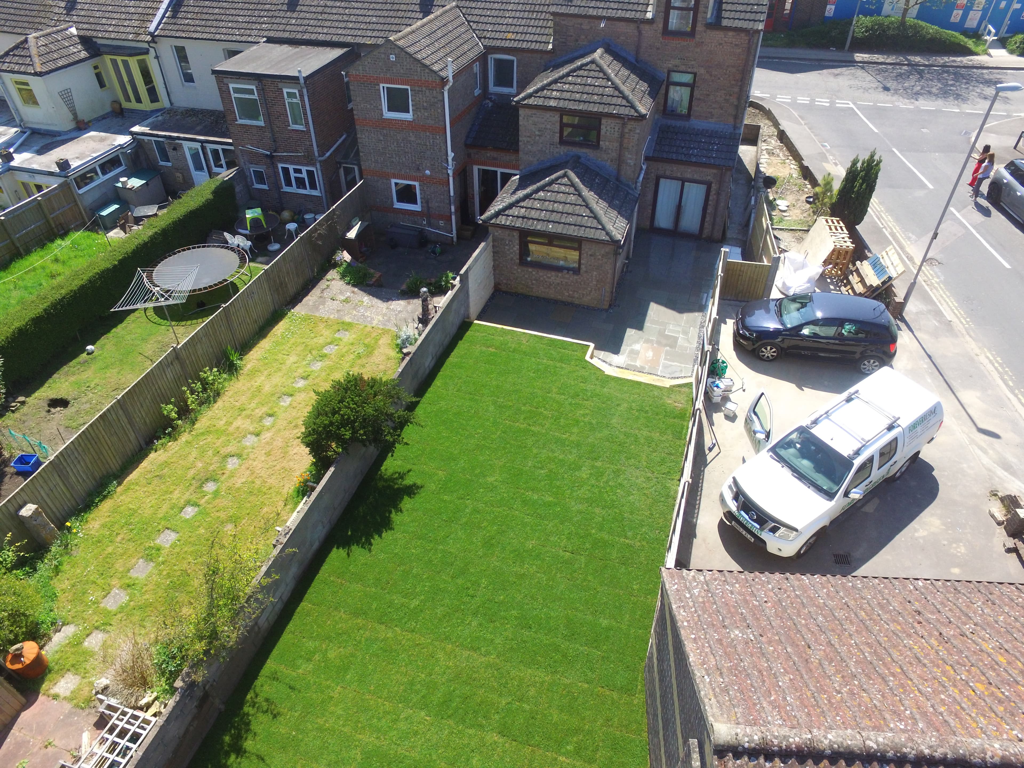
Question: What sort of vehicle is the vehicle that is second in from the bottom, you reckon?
car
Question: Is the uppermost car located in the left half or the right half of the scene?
right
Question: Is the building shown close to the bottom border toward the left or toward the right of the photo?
right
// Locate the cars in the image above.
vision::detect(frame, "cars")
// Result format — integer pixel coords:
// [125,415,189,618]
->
[987,162,1024,235]
[738,293,905,375]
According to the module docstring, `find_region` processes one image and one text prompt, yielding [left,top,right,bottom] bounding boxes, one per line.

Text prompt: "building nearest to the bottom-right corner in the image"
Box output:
[652,561,1024,768]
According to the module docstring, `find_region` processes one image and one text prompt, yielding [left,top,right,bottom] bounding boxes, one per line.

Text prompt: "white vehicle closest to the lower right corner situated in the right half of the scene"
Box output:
[715,369,945,566]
